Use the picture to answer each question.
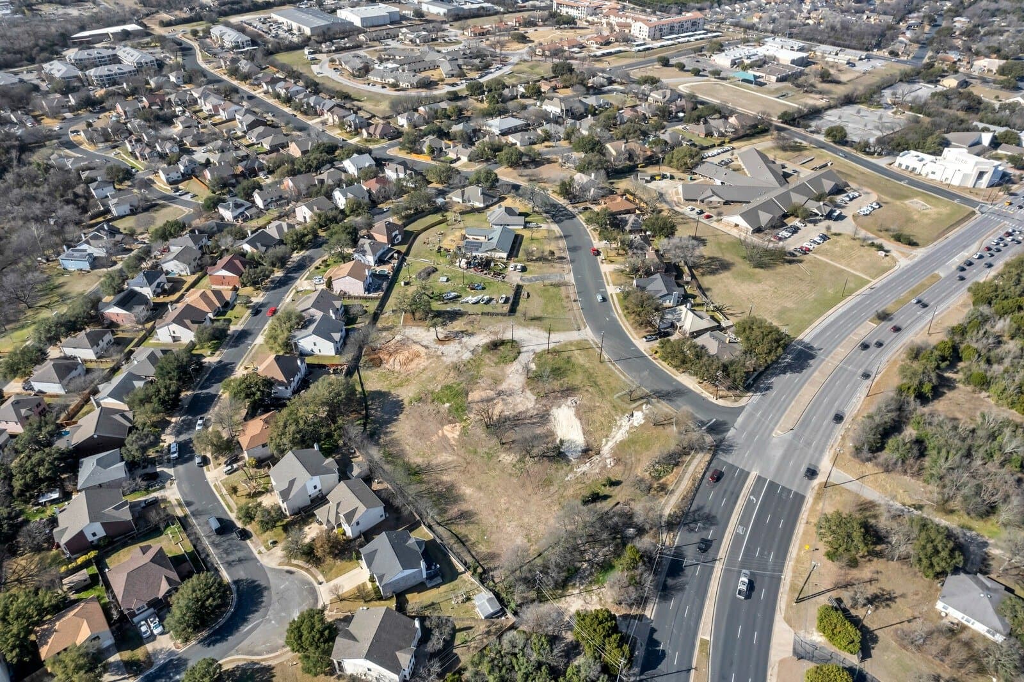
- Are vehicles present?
Yes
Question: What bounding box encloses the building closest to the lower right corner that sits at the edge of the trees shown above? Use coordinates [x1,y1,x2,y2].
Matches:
[936,569,1013,640]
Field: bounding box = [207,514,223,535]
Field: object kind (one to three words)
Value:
vehicle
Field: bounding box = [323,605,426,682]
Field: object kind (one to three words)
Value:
house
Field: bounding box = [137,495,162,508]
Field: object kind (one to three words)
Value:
vehicle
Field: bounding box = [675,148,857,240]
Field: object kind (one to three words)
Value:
building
